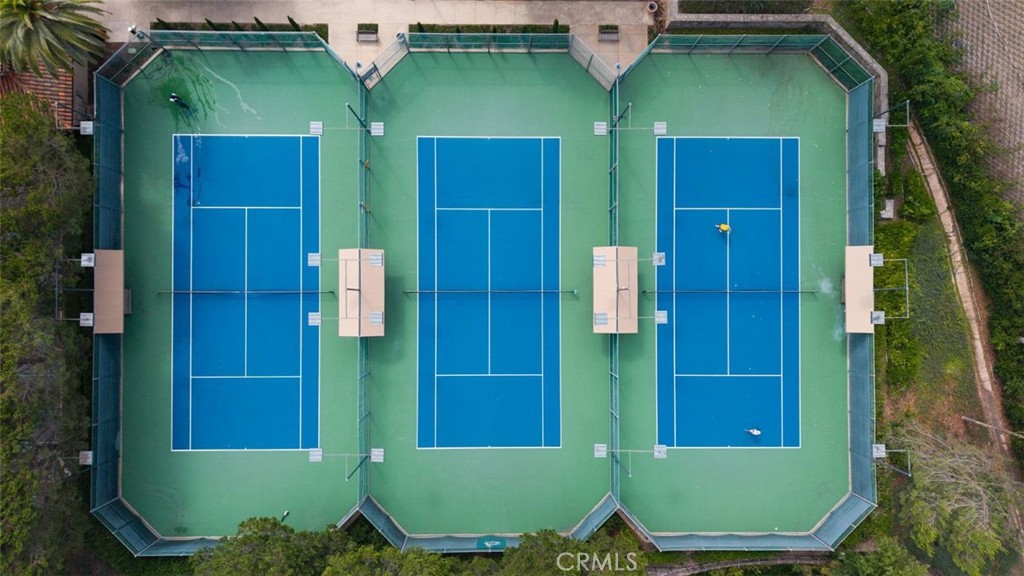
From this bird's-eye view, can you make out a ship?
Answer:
No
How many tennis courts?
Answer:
3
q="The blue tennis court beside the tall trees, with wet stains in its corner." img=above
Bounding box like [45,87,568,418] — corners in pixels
[124,51,370,534]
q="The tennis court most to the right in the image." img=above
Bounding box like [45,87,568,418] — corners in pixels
[609,54,847,530]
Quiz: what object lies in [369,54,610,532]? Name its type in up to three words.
tennis court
